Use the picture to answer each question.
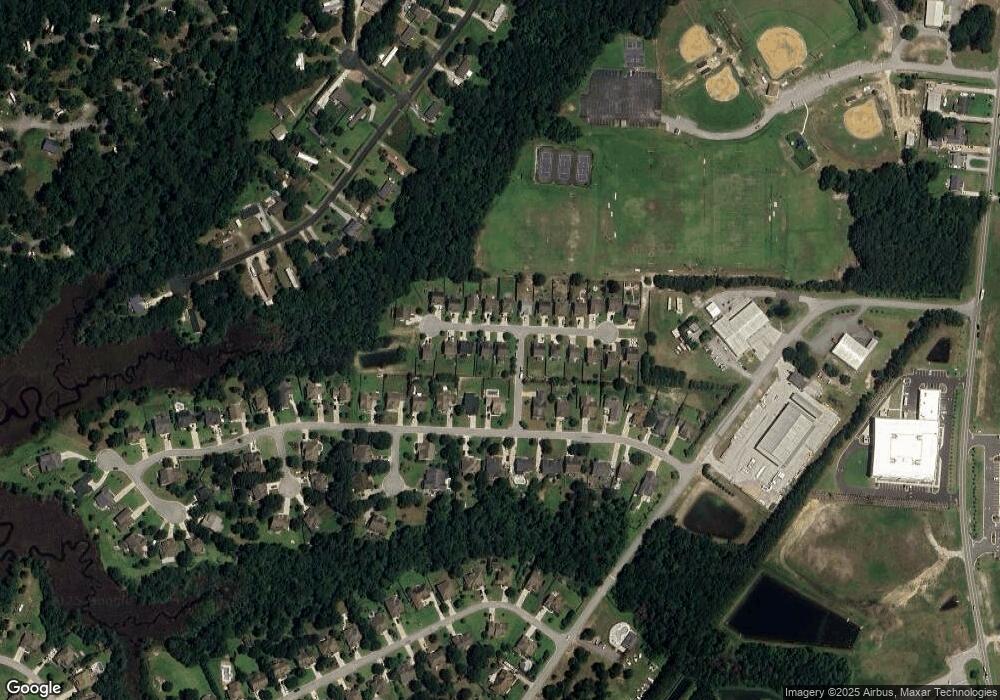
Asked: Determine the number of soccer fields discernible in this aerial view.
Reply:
2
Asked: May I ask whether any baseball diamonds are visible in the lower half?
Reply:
No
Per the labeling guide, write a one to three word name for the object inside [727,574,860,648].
pond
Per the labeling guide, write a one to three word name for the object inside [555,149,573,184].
tennis court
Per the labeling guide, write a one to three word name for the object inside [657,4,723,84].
baseball field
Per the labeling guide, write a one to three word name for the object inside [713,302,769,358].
building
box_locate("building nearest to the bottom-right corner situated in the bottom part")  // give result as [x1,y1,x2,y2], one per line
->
[872,418,938,482]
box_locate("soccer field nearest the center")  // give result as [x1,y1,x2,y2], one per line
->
[619,152,683,262]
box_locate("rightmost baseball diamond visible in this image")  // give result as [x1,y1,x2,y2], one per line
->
[826,93,890,158]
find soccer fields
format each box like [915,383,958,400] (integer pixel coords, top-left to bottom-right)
[619,152,683,262]
[706,152,771,262]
